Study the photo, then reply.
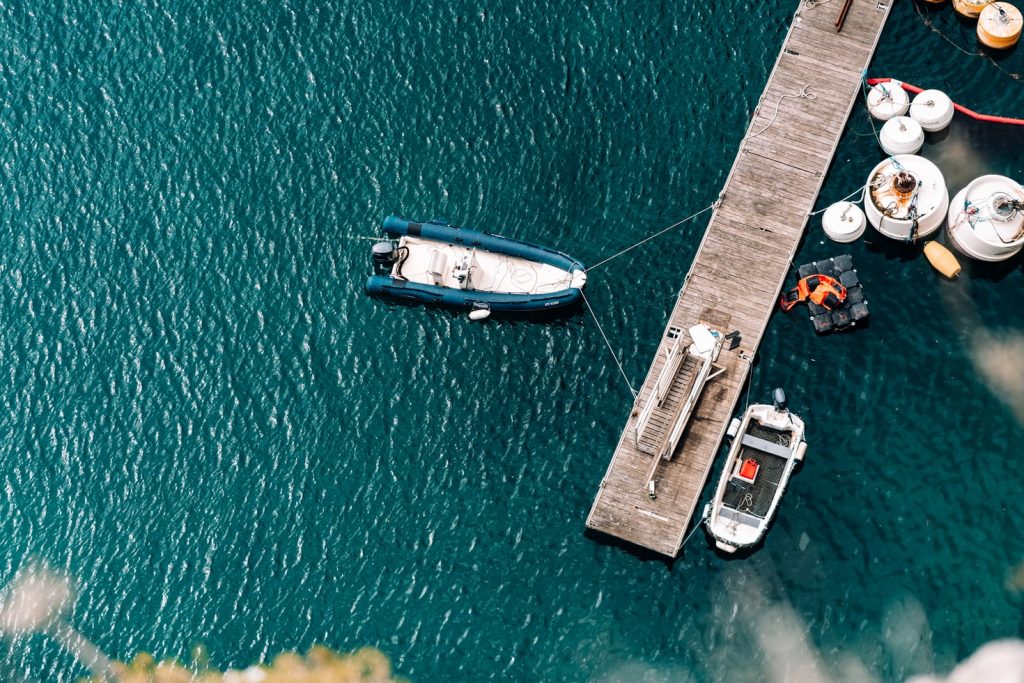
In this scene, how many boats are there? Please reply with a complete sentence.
I count 2 boats.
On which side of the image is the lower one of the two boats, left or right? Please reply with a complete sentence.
You can find the lower one of the two boats on the right side of the picture.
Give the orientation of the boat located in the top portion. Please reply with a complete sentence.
From this overhead view, the boat located in the top portion appears to run from side to side.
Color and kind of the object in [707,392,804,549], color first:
white boat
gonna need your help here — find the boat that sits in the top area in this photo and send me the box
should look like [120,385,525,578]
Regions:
[367,214,585,310]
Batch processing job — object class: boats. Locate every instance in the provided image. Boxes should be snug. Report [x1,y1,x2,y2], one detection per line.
[707,392,804,549]
[367,214,585,310]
